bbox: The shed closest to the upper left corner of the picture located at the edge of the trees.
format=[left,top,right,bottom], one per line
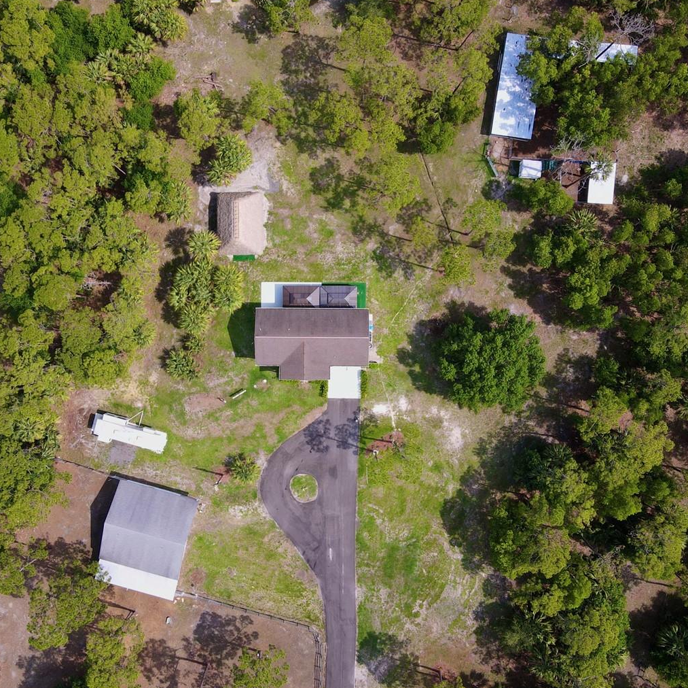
[217,191,269,256]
